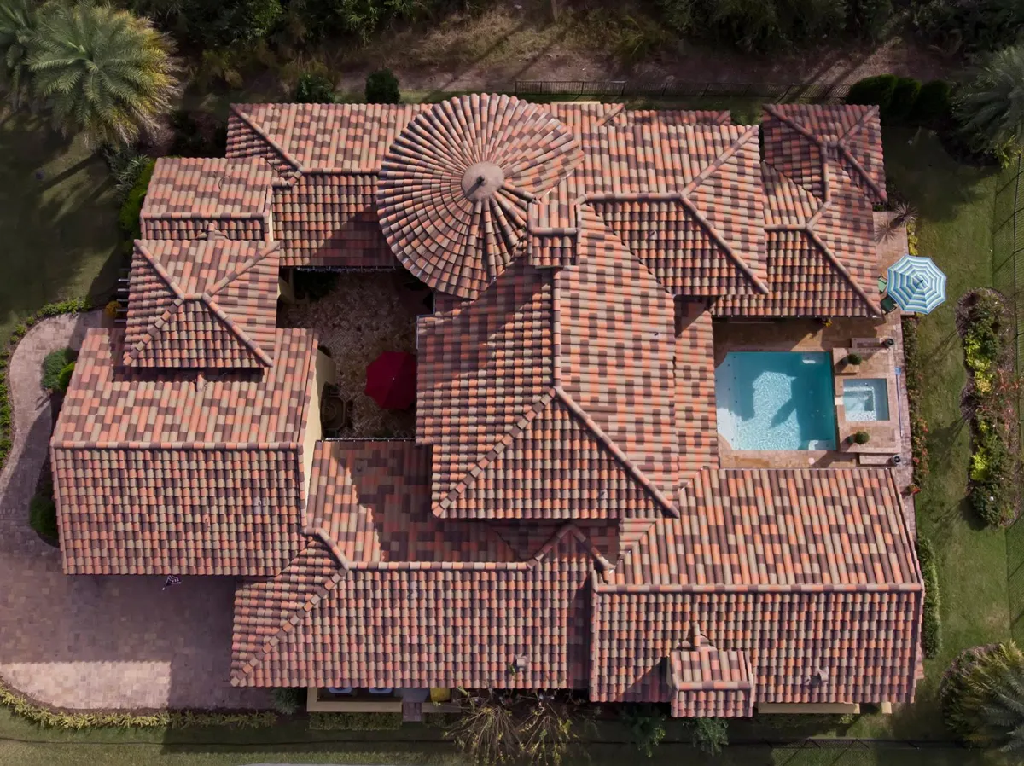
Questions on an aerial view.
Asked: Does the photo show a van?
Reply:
No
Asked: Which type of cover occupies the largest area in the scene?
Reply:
buildings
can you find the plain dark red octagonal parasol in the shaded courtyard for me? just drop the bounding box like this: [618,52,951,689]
[366,354,412,409]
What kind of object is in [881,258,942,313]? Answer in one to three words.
umbrella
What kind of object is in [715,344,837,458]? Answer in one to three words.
swimming pool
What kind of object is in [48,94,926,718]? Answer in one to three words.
house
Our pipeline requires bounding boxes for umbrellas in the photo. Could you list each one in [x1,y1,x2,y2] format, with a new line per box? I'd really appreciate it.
[366,354,412,409]
[881,258,942,313]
